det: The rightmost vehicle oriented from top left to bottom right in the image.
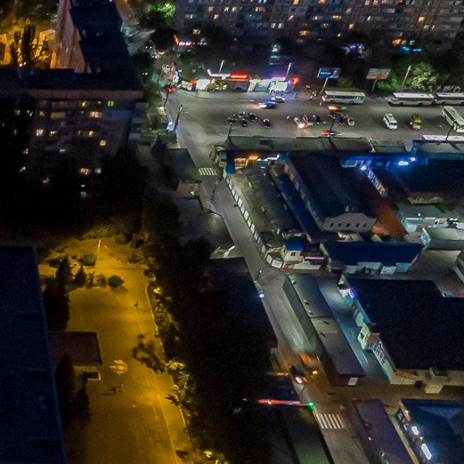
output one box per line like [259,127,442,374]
[436,102,464,128]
